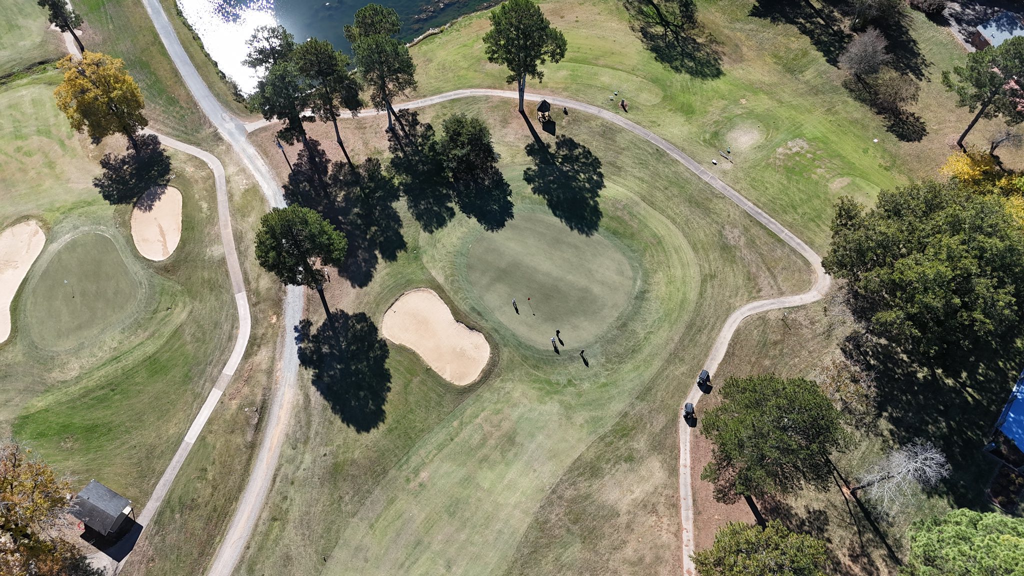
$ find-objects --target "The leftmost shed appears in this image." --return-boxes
[68,480,137,538]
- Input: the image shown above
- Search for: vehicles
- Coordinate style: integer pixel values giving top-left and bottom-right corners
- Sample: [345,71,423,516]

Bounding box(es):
[696,369,709,386]
[683,402,694,419]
